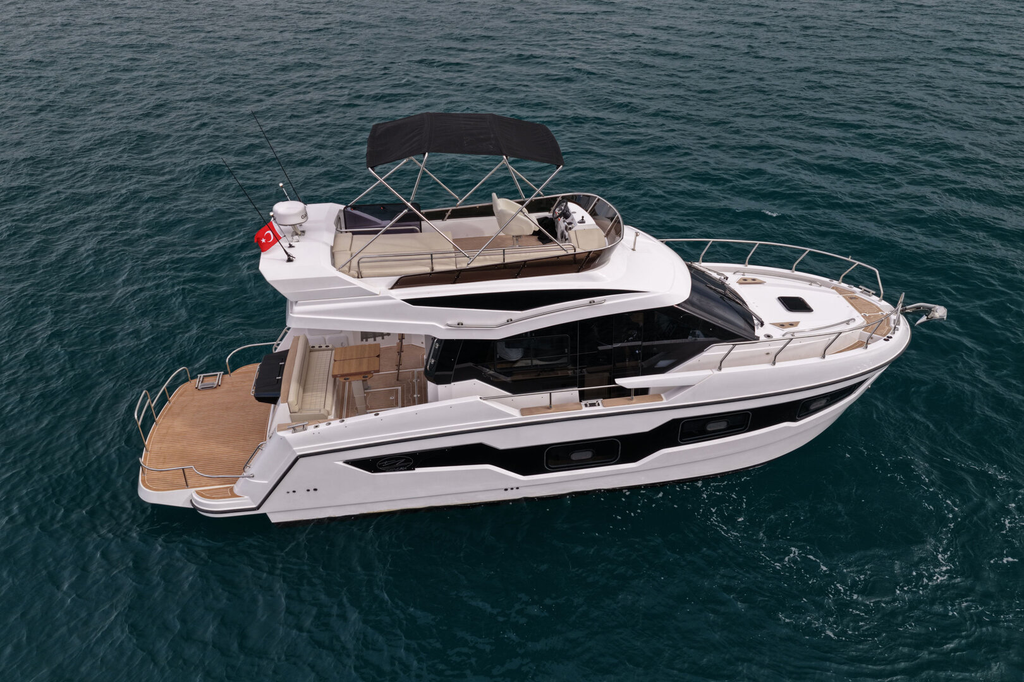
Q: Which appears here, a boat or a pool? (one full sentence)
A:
Of the two, only a boat appears.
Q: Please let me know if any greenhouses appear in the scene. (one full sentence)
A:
No, there isn't any greenhouse down there.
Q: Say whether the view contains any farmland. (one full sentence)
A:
No, farmland can't be seen anywhere here.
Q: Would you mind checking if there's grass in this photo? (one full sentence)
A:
No, no grass is visible.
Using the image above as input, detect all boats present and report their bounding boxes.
[135,109,916,528]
